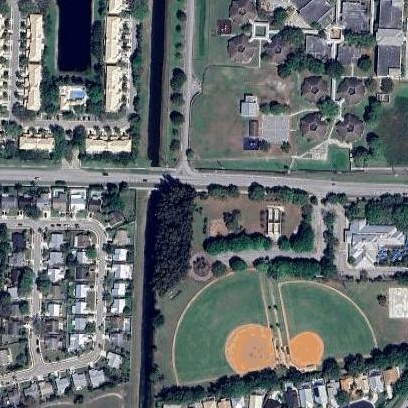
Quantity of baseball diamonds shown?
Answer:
two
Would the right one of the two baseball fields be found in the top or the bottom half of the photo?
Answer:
bottom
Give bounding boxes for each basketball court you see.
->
[389,288,408,317]
[263,115,288,141]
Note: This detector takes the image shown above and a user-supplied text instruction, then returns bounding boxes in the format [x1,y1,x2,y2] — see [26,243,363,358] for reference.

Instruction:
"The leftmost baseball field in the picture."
[173,269,279,383]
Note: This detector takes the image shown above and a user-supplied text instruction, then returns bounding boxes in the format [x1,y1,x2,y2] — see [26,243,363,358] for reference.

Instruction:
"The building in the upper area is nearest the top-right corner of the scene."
[380,0,403,28]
